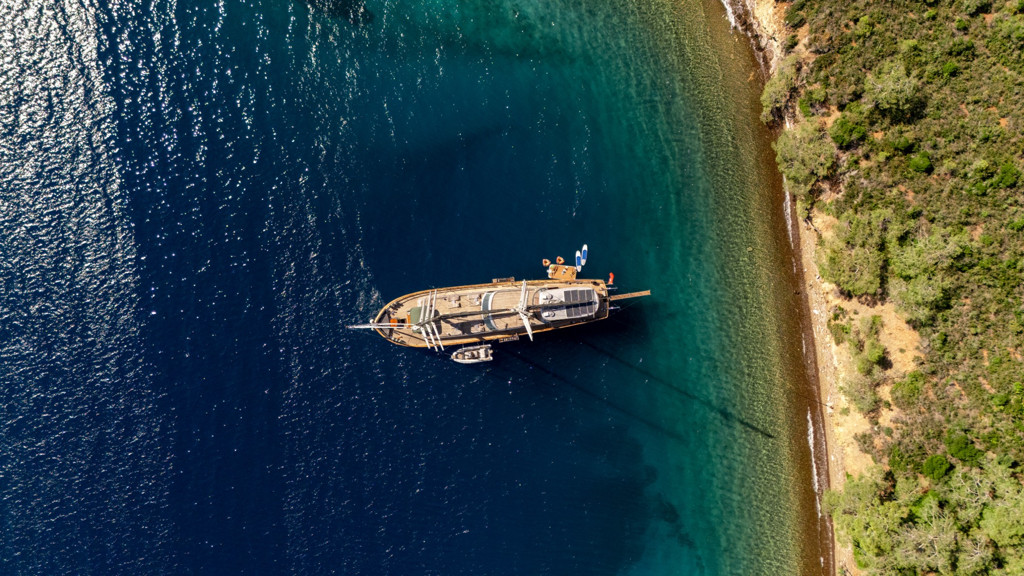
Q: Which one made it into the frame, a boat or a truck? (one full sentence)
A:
This aerial view contains a boat.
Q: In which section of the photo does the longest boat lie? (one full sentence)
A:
The longest boat is located in the center region of the scene.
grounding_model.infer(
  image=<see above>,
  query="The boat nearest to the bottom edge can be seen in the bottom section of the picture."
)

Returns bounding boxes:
[452,338,499,364]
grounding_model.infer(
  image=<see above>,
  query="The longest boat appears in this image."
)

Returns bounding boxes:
[350,277,651,351]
